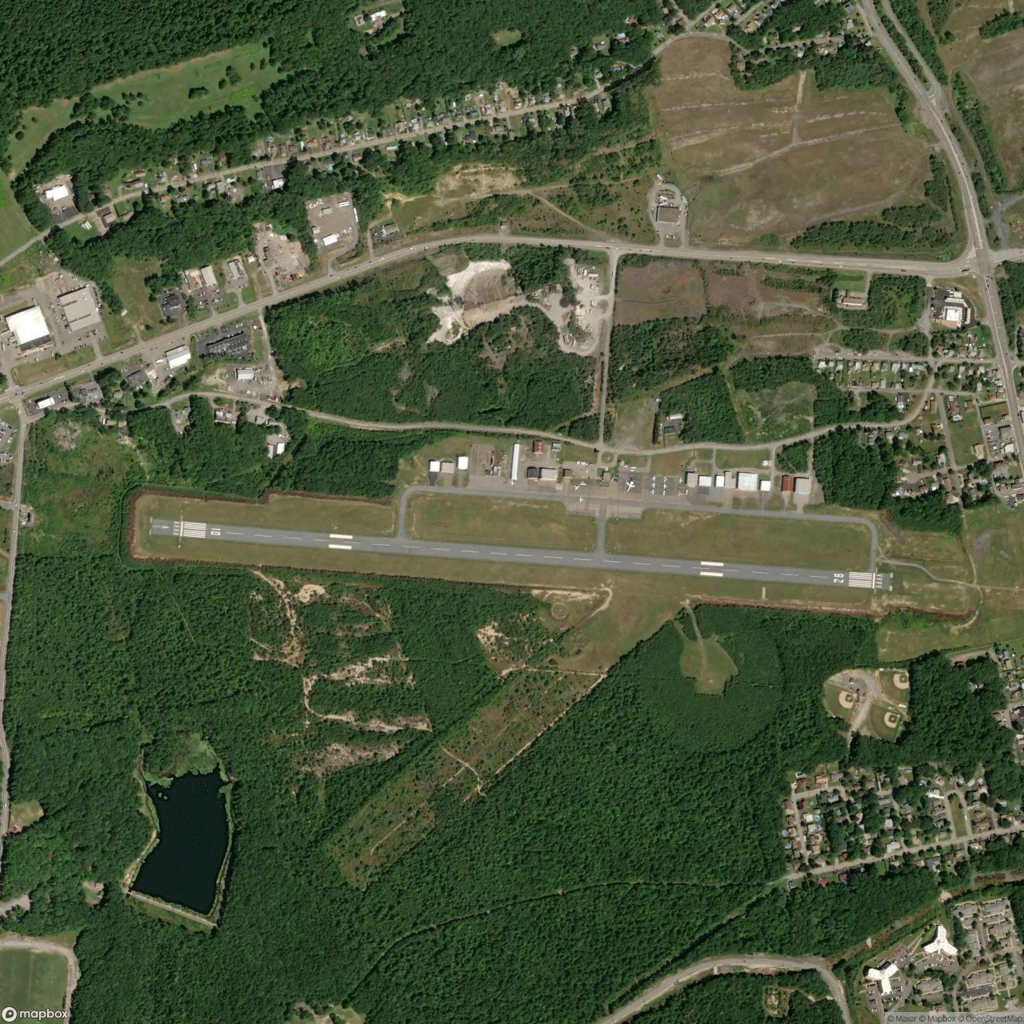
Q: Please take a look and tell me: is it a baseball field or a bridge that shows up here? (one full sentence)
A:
Of the two, only a baseball field appears.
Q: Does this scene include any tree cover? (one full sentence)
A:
Yes, tree cover shows up in the scene.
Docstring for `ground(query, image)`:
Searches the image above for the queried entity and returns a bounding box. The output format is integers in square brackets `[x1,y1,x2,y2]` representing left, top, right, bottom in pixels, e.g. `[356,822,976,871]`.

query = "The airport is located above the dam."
[150,444,893,598]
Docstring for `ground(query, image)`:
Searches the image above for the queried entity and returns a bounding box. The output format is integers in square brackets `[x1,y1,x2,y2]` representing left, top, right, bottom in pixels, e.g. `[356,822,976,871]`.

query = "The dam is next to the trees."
[128,890,218,932]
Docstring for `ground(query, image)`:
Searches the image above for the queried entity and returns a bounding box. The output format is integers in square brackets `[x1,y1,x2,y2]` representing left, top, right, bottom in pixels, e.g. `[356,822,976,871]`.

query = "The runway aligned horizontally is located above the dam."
[151,519,890,589]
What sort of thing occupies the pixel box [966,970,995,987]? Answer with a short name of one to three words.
building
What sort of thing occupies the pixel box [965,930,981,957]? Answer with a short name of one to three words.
building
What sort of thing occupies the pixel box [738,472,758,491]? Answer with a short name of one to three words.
hangar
